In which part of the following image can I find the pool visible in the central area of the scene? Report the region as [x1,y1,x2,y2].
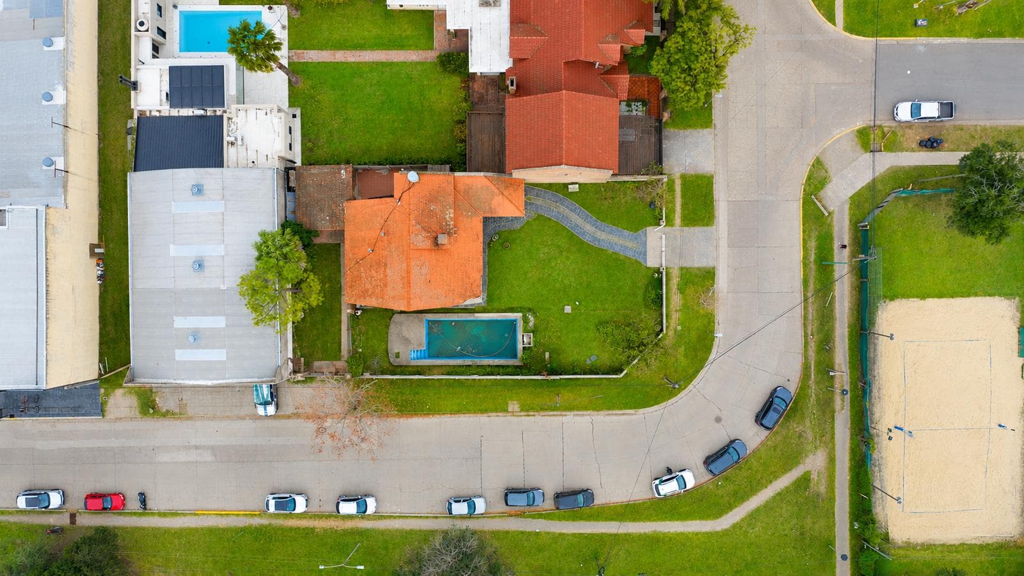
[389,313,523,365]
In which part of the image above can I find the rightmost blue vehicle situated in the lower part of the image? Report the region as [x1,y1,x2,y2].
[757,387,794,435]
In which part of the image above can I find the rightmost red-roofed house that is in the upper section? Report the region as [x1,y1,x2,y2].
[506,0,653,181]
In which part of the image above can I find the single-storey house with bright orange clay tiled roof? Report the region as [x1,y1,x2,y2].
[346,171,525,311]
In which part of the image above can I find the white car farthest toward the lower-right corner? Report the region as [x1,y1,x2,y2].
[653,472,697,501]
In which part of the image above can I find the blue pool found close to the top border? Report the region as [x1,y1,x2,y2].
[174,5,266,56]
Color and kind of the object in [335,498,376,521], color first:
white car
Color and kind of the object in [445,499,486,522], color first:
white car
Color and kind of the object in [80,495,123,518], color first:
red car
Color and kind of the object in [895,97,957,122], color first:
white truck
